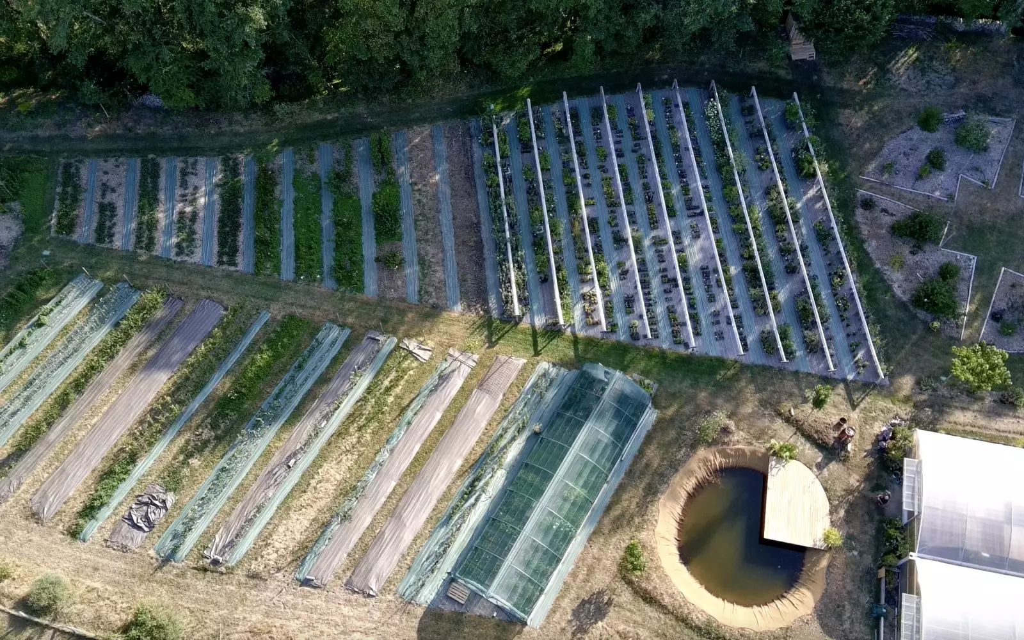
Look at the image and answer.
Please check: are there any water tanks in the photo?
No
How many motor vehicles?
none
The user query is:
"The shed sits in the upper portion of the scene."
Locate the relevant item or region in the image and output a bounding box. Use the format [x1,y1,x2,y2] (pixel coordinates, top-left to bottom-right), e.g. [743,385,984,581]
[784,17,819,62]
